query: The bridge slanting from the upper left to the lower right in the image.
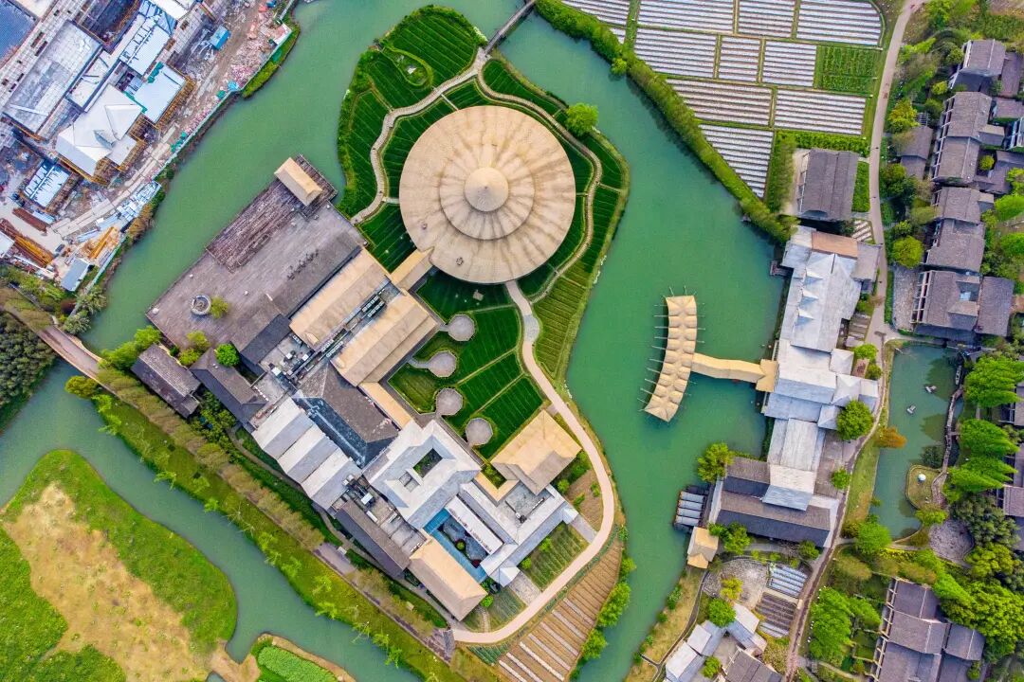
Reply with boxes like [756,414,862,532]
[31,315,115,390]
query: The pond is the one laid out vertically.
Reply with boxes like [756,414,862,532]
[870,343,962,538]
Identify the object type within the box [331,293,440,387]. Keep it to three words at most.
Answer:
building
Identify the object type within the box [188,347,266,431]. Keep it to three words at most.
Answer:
house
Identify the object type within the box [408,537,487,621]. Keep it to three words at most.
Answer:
building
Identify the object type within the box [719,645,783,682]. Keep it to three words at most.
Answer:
house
